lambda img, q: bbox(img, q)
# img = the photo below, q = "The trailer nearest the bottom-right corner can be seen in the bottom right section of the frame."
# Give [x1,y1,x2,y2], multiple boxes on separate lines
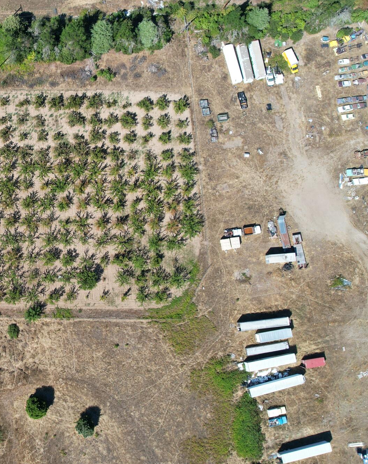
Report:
[274,439,332,464]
